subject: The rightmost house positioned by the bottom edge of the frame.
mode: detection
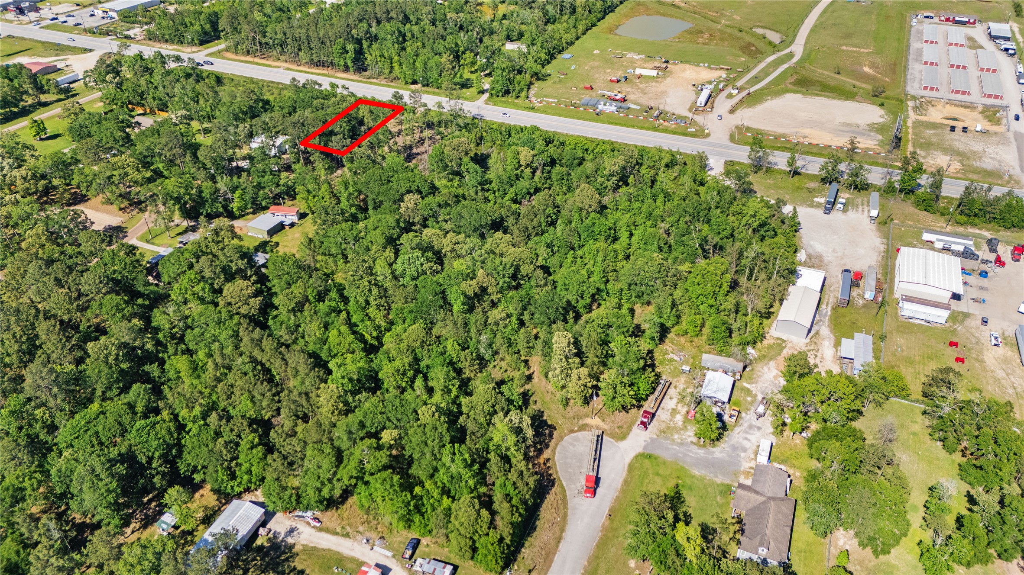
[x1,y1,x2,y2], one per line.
[731,461,795,574]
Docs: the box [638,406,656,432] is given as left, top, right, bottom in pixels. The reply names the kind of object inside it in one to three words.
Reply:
vehicle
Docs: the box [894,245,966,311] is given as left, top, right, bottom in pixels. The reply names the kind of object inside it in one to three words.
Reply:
building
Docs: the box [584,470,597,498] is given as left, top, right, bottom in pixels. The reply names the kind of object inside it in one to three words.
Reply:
vehicle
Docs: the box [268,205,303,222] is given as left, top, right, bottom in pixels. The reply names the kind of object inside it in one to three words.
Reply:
shed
